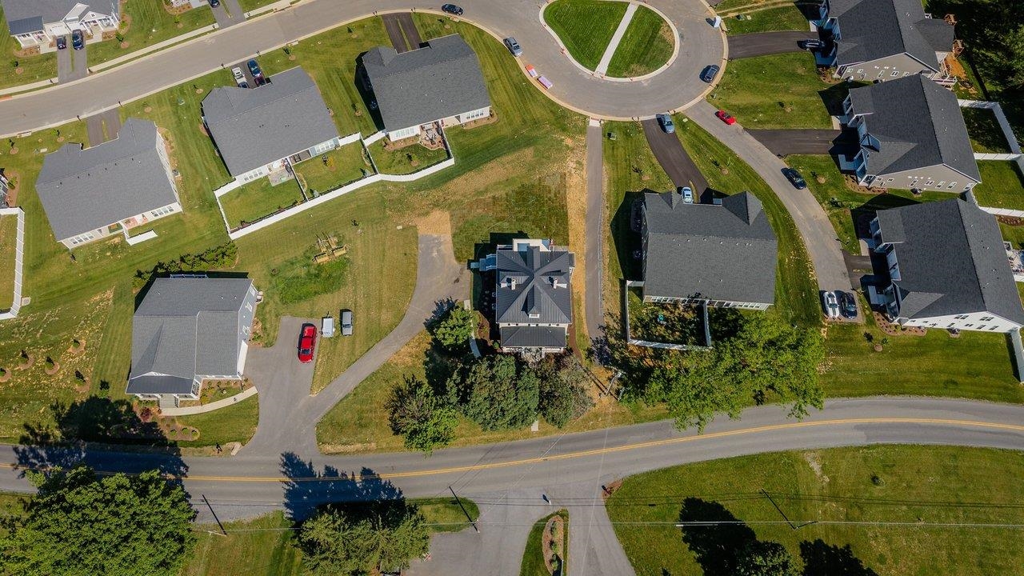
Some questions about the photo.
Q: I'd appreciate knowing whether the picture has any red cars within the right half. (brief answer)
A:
Yes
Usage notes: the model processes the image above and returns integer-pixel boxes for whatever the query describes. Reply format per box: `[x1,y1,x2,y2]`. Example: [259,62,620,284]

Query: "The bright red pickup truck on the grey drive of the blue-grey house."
[299,325,317,361]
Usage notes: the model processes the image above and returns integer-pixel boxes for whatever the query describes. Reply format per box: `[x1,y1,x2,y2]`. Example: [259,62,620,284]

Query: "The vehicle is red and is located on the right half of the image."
[713,108,736,128]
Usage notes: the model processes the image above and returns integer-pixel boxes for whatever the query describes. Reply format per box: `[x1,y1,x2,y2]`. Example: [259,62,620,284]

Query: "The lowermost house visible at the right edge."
[856,199,1024,333]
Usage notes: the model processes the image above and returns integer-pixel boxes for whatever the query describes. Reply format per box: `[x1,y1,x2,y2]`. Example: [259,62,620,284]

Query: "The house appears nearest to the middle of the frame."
[459,238,573,364]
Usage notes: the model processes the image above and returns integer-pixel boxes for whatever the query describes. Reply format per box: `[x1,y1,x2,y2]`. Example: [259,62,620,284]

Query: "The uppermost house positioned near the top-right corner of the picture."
[808,0,965,82]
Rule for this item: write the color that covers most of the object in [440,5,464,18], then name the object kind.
black vehicle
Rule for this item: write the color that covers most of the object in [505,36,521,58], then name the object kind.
gray car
